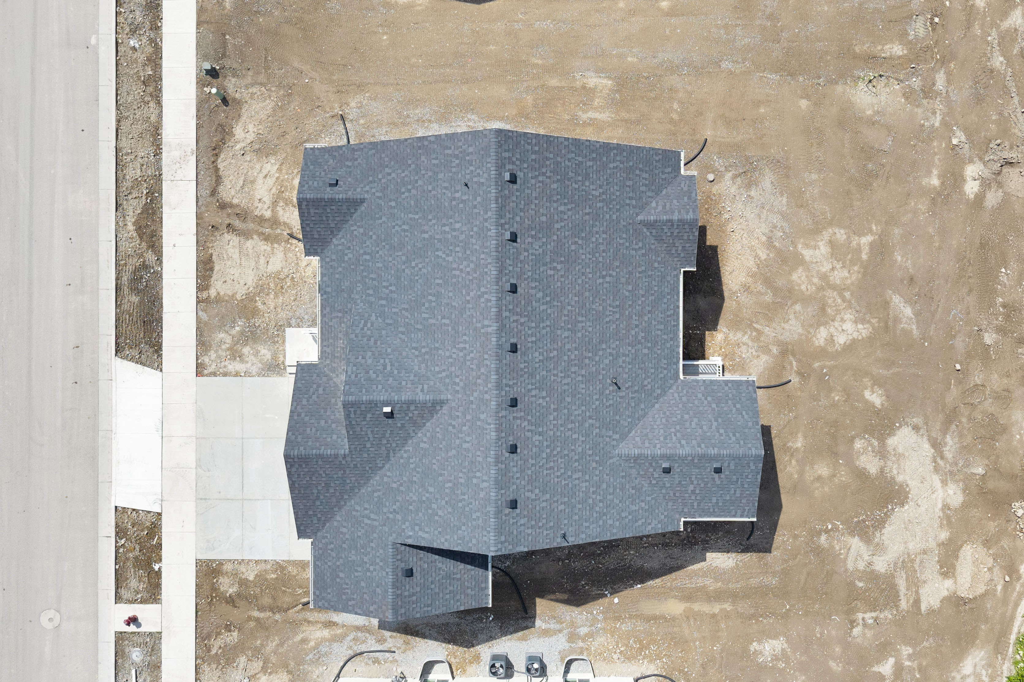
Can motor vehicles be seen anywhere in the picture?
No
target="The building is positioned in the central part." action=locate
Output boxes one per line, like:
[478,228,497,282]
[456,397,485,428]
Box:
[284,128,764,622]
